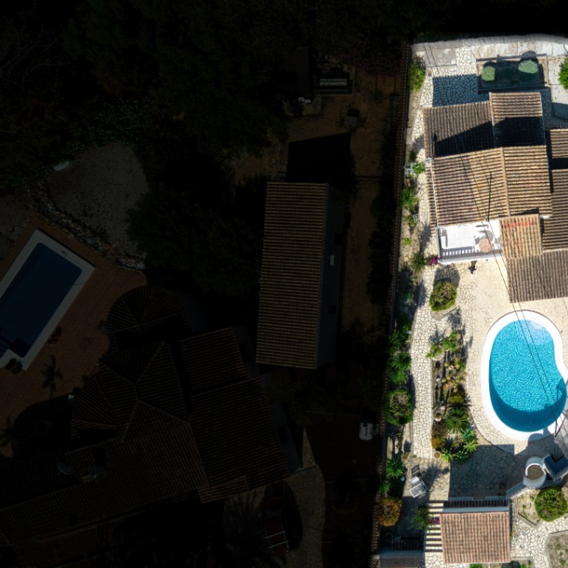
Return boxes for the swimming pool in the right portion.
[481,310,568,441]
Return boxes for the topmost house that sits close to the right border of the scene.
[423,92,568,302]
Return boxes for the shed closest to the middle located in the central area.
[255,183,342,369]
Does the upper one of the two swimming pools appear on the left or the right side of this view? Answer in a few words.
left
